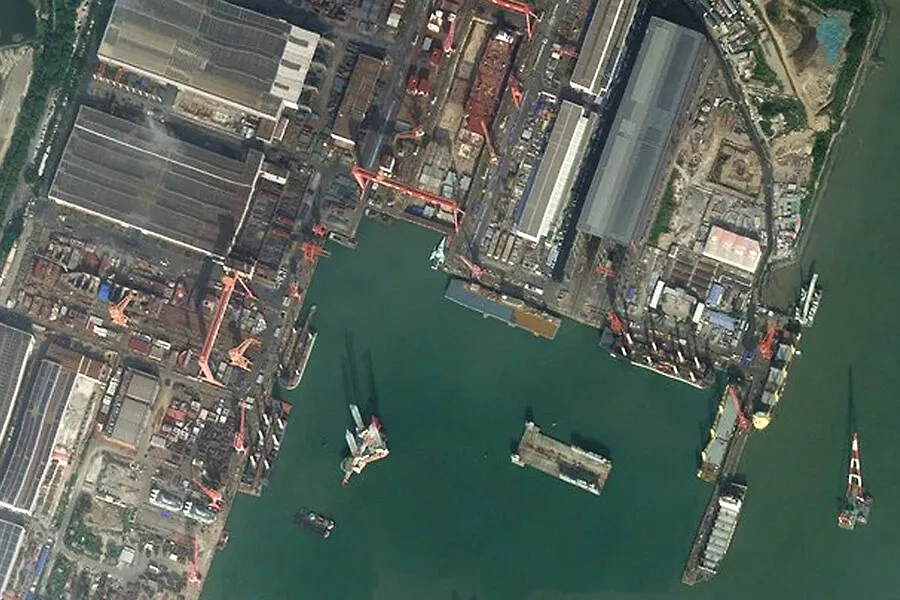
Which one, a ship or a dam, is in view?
ship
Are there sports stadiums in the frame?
No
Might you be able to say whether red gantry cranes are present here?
Yes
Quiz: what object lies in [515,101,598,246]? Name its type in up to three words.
building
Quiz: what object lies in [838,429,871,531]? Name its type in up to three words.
crane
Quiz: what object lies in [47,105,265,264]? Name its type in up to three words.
shed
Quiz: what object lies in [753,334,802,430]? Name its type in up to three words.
ship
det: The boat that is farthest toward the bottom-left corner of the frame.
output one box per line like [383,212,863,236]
[149,489,182,510]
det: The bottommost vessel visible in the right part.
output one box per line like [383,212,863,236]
[693,484,747,585]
